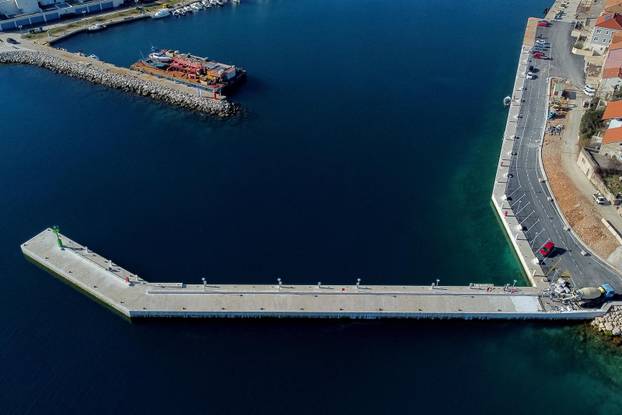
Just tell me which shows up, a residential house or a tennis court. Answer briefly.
residential house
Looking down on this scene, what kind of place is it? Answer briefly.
port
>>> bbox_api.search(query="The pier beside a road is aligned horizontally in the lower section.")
[21,228,622,321]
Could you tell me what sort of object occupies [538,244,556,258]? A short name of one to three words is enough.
vehicle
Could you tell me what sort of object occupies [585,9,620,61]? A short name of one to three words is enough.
house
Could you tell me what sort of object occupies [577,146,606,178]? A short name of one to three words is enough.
shed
